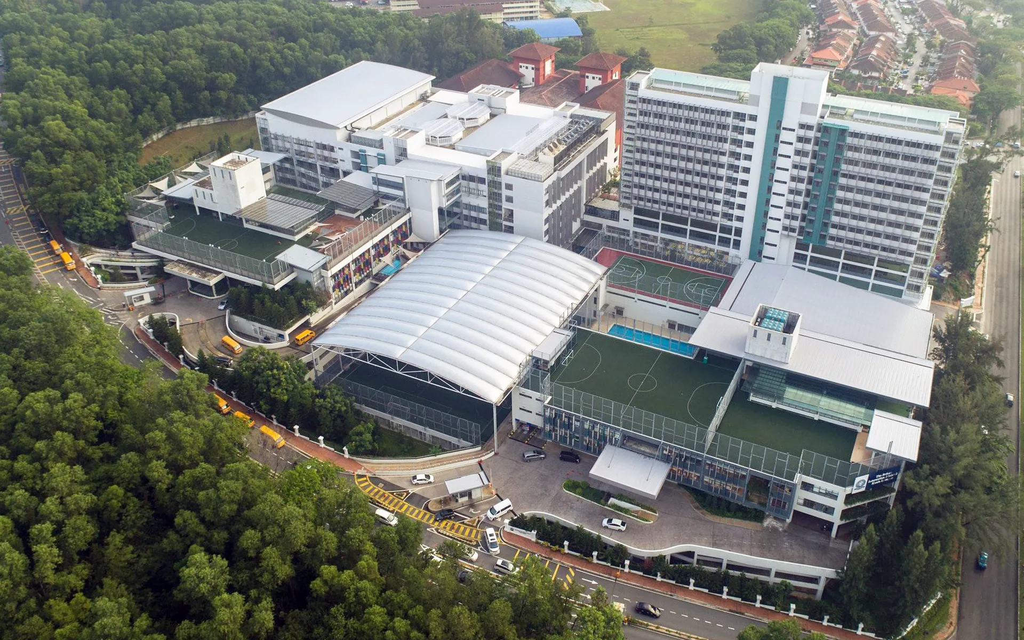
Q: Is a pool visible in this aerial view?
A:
Yes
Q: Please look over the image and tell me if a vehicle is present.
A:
Yes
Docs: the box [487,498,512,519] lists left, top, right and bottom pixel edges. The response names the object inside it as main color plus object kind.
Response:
white vehicle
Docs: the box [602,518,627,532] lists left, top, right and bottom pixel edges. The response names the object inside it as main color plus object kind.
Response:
white car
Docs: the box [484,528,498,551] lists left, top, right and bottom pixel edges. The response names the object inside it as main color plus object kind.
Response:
white car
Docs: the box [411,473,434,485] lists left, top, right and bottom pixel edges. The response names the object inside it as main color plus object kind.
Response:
white vehicle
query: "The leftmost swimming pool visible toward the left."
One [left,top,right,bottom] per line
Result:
[371,242,416,280]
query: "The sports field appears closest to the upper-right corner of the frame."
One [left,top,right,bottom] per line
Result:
[575,0,777,98]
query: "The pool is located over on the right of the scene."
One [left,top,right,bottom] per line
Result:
[589,310,703,358]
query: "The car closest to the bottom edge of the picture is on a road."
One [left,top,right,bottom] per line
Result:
[635,601,663,618]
